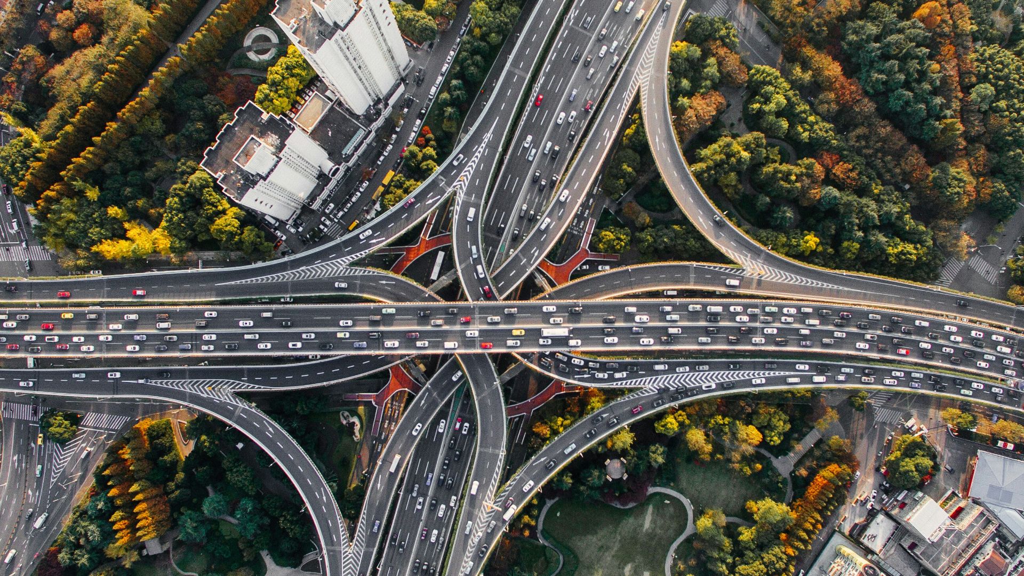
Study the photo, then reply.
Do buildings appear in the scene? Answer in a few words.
Yes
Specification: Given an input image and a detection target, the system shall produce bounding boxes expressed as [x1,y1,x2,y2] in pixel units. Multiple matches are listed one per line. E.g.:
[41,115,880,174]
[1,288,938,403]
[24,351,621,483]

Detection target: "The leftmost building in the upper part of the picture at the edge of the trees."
[199,100,325,216]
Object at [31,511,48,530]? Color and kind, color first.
white vehicle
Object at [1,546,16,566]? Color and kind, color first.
white vehicle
